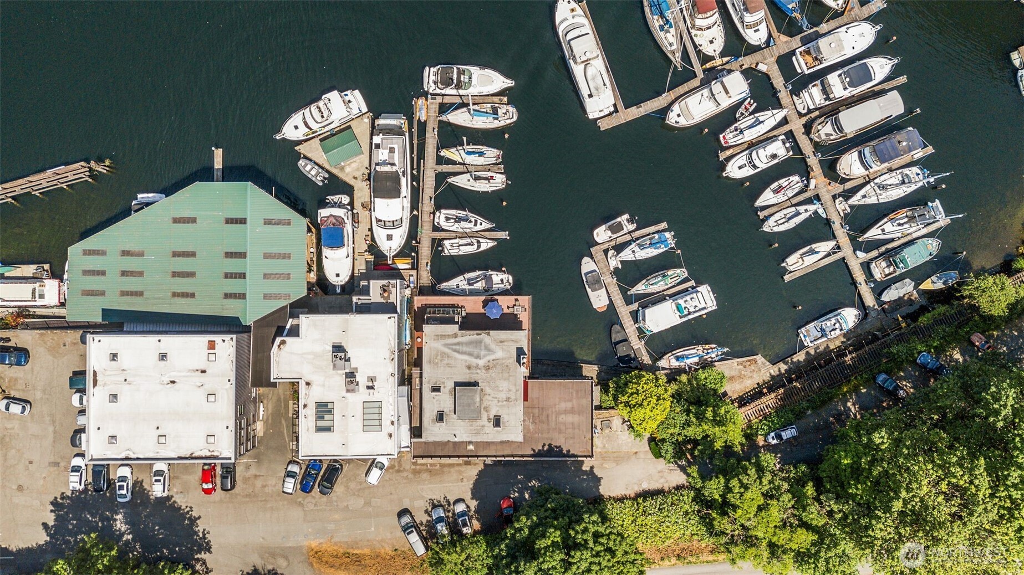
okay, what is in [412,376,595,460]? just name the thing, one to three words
building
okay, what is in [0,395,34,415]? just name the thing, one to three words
car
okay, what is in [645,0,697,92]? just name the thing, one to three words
boat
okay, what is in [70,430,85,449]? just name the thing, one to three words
vehicle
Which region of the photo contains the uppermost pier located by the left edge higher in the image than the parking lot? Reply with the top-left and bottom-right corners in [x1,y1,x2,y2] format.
[0,160,109,204]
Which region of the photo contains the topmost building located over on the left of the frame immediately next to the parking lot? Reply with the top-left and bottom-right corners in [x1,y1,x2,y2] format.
[66,182,314,326]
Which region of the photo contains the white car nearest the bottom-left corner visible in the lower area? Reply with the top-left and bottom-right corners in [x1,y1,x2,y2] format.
[67,455,89,492]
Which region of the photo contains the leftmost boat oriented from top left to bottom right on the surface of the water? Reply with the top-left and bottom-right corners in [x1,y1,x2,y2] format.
[297,159,328,187]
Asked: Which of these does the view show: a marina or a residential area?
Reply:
marina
